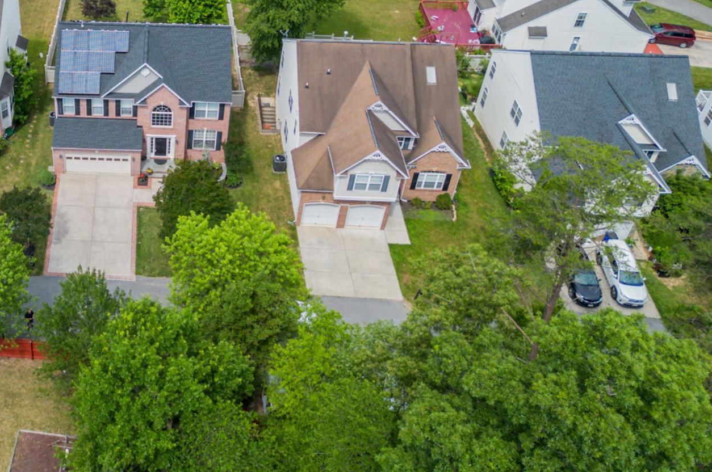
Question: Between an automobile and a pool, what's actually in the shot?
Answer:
automobile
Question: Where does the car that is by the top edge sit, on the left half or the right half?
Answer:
right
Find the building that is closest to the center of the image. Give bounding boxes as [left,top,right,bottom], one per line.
[275,26,474,228]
